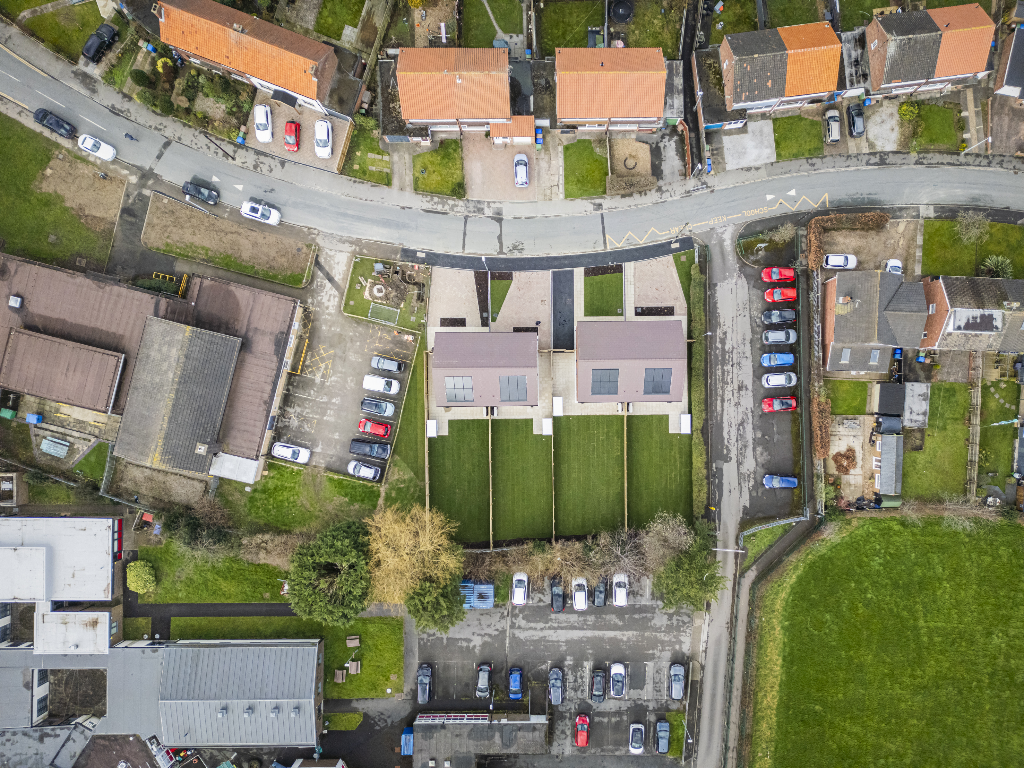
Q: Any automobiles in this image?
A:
Yes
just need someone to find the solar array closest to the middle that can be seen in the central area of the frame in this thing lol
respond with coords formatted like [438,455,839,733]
[498,376,527,401]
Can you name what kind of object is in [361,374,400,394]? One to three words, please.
vehicle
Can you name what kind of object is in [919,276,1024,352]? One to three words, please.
house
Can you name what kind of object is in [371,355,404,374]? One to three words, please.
car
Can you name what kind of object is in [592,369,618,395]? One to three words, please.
solar array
